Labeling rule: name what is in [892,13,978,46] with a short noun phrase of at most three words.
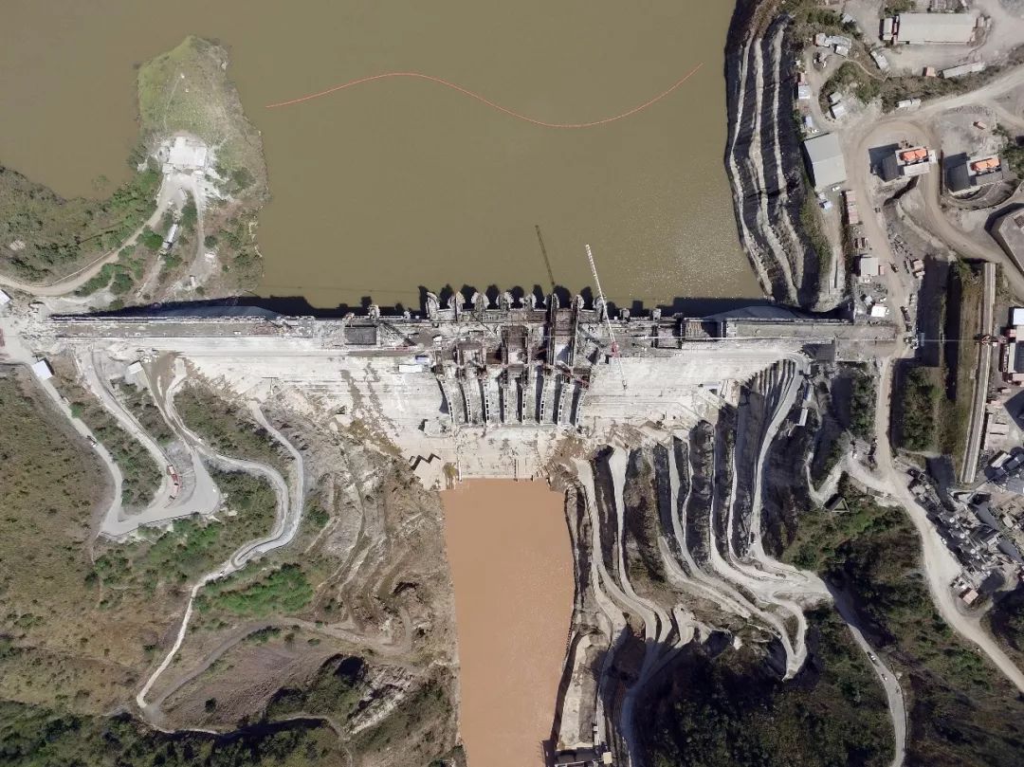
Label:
building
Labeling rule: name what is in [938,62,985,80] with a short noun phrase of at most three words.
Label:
shed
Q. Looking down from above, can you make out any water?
Yes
